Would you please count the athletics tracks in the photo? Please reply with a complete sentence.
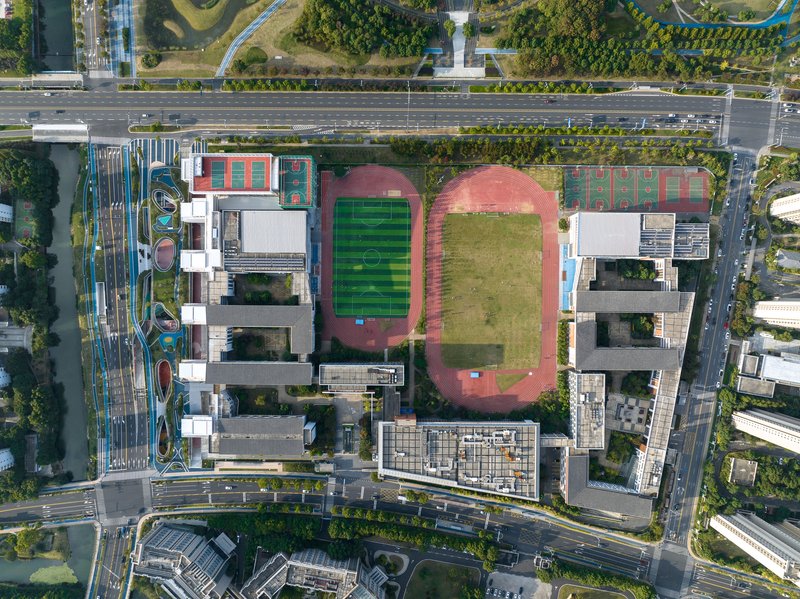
Looking from above, you can make out 2 athletics tracks.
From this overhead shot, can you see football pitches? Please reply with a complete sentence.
Yes, there is a football pitch in the image.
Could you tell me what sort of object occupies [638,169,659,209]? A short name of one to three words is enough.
basketball court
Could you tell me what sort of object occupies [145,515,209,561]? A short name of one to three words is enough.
building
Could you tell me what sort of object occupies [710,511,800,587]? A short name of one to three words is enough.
building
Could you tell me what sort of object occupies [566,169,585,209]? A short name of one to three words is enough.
basketball court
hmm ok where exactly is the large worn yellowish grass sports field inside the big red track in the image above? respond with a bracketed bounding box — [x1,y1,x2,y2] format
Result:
[441,213,542,369]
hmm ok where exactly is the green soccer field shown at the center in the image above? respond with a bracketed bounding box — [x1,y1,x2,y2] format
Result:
[334,197,411,317]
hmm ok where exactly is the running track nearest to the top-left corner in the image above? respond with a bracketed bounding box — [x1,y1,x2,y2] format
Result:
[321,166,423,350]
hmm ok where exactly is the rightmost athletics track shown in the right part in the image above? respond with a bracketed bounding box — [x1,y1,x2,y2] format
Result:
[426,165,558,413]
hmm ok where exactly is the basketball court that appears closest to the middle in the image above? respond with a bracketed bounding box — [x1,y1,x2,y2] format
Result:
[284,159,306,204]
